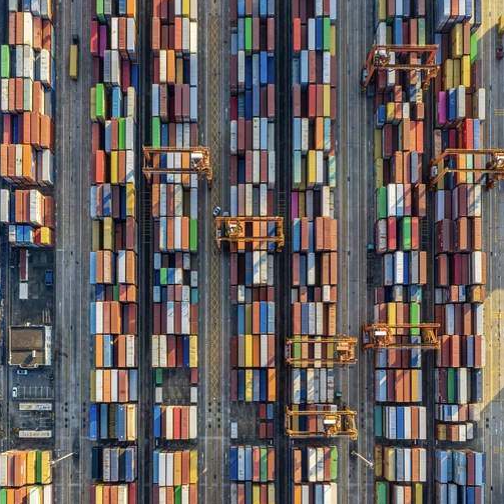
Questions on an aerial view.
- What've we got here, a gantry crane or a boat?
gantry crane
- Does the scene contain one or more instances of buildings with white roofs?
No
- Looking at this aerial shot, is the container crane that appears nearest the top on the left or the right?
right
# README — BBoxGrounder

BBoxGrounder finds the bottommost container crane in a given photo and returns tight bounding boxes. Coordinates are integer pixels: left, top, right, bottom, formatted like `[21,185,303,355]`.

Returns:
[280,405,357,437]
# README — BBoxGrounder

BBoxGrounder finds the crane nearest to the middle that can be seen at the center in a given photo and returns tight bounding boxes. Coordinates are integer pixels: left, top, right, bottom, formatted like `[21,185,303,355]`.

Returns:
[213,215,286,254]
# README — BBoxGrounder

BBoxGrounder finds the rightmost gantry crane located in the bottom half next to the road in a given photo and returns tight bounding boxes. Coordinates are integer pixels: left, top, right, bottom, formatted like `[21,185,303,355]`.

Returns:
[360,322,443,351]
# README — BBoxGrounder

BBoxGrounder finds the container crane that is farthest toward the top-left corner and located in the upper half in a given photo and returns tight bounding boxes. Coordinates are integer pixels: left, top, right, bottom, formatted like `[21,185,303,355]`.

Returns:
[141,145,217,190]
